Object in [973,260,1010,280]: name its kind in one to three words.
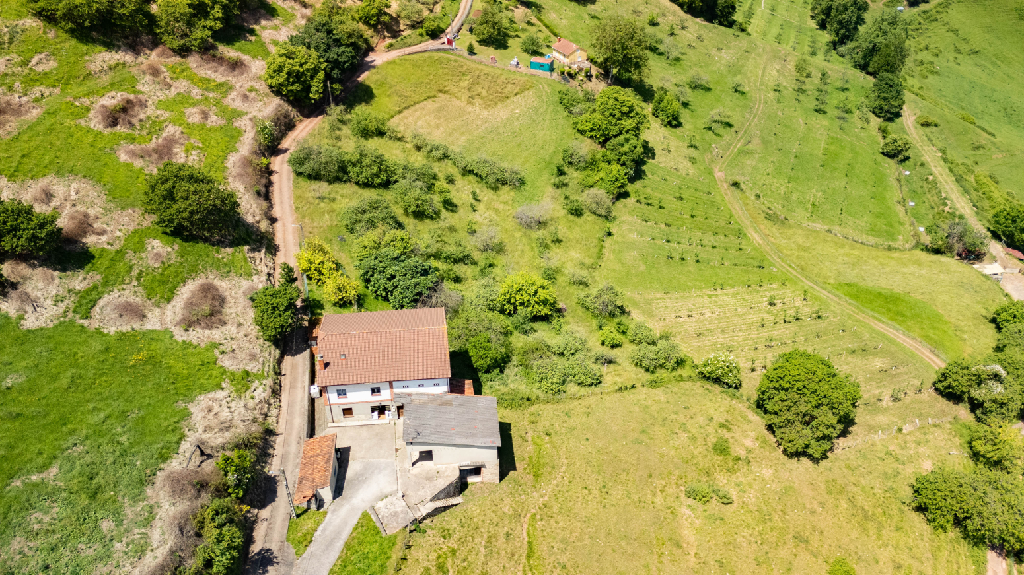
shed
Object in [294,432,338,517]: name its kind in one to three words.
building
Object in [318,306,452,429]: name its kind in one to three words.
house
